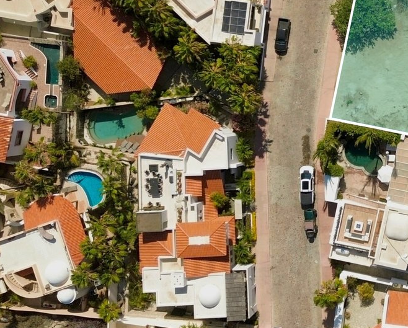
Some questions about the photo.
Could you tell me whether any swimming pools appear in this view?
Yes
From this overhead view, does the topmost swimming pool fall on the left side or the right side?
left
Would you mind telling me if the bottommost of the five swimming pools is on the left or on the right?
left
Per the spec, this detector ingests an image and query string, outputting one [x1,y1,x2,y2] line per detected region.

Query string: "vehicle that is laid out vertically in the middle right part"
[298,165,315,208]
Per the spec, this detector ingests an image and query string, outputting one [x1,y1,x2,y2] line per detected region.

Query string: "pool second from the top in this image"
[44,94,59,109]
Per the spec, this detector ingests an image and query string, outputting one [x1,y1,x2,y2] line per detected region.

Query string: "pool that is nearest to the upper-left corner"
[28,42,60,87]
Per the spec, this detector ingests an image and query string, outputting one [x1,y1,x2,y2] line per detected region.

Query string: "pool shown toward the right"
[341,136,386,178]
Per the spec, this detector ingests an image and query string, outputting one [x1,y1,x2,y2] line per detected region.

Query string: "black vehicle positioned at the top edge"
[272,16,291,57]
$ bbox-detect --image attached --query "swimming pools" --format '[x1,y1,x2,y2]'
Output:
[44,94,59,109]
[66,169,107,209]
[341,136,386,178]
[28,42,60,87]
[85,106,148,145]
